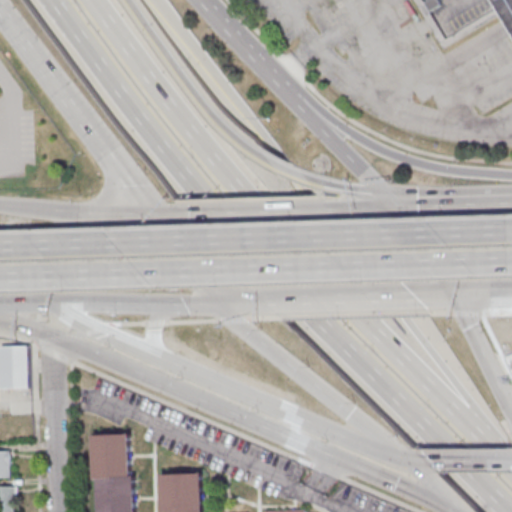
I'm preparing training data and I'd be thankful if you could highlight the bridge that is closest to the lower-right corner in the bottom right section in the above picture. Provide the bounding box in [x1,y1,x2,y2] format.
[408,447,512,472]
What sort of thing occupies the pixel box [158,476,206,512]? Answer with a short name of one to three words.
building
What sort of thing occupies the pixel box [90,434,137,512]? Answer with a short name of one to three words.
building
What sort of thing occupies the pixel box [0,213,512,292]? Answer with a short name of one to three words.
overpass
